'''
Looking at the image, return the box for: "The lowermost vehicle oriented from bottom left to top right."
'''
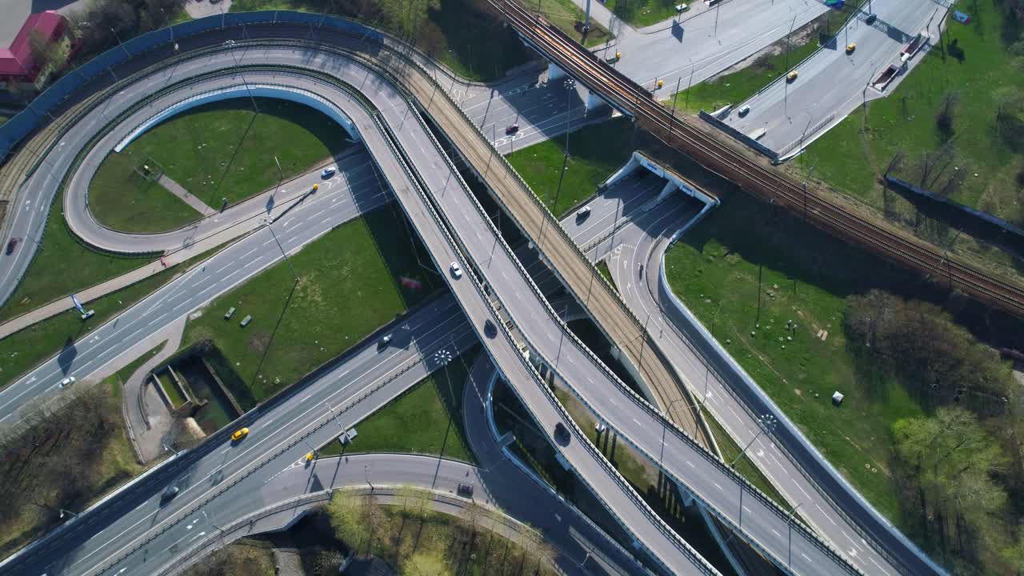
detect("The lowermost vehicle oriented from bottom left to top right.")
[158,484,180,502]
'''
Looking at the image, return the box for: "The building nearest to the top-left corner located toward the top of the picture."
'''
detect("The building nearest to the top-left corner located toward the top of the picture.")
[0,10,73,85]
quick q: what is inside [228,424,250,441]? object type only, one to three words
car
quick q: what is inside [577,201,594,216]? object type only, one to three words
vehicle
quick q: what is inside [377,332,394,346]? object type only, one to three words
car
